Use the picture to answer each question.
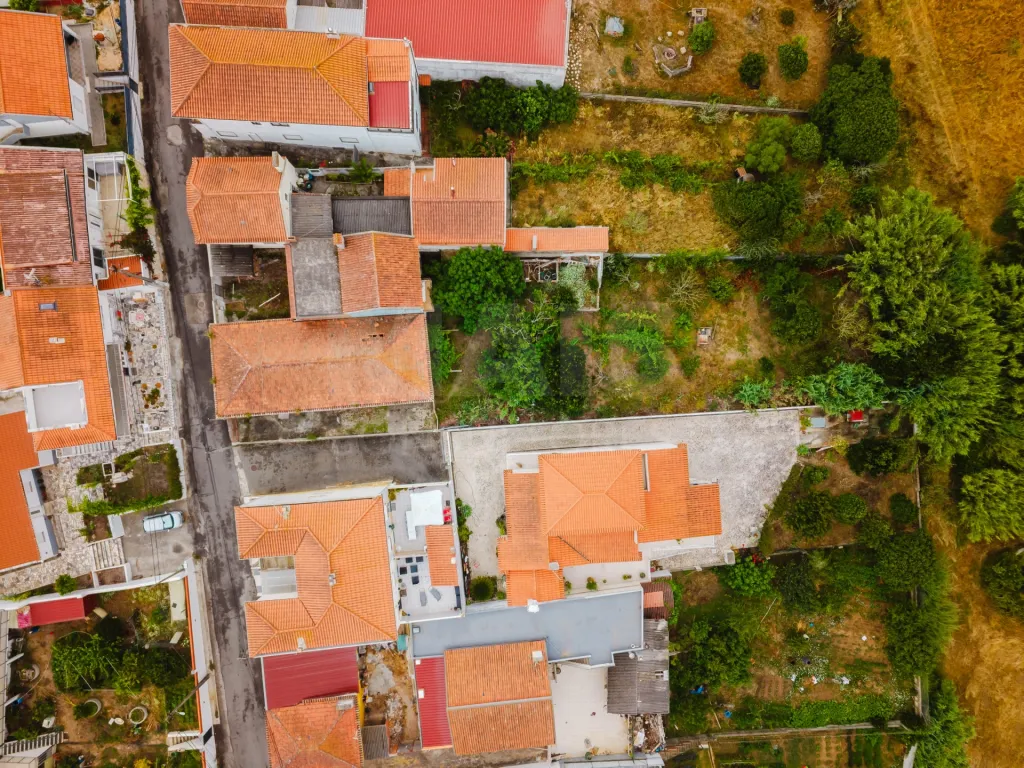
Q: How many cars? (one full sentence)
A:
Altogether the scene contains 1 car.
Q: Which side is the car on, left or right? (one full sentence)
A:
The car is on the left side of the image.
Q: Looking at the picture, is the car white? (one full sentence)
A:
Yes, white is the color of the car.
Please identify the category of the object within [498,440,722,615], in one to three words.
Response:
house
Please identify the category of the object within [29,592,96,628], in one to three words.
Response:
shed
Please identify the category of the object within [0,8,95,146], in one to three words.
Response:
house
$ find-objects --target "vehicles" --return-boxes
[142,510,187,532]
